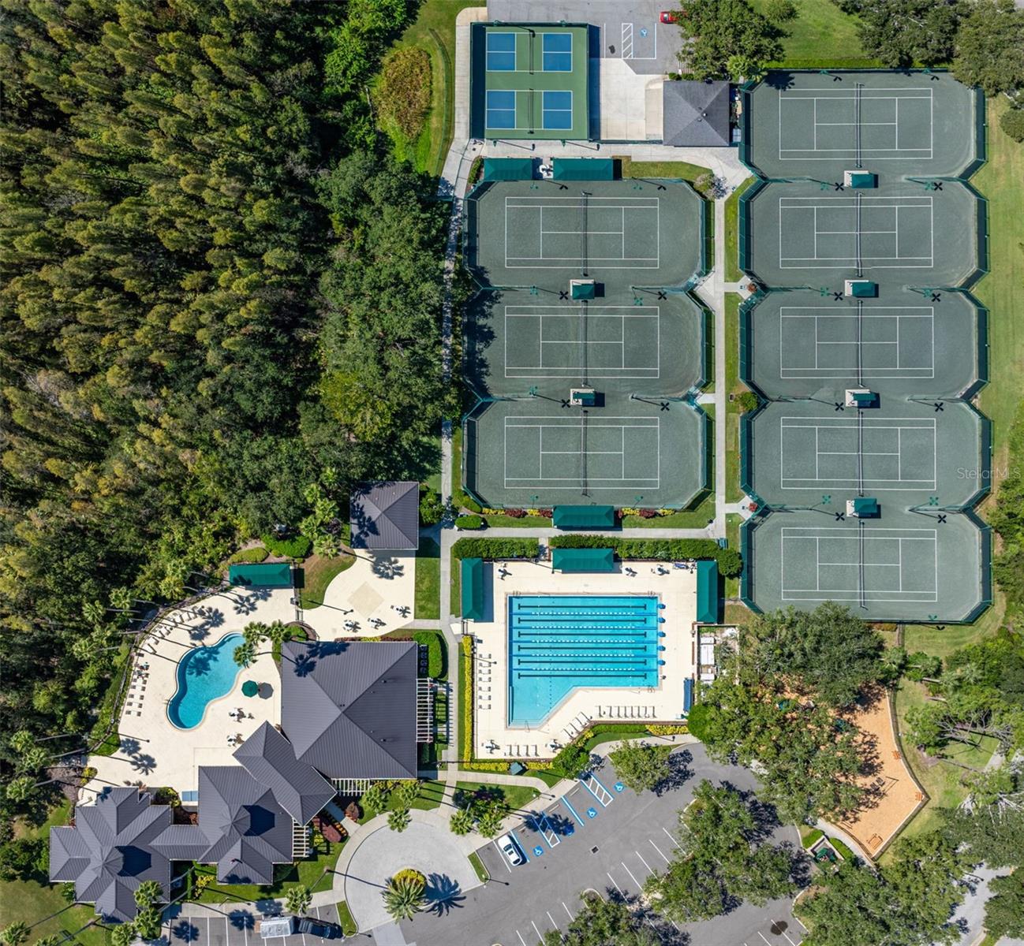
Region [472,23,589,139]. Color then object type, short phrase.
green sports court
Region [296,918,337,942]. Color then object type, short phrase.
black truck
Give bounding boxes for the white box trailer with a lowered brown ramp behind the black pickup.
[256,919,298,944]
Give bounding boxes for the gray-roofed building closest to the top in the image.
[664,80,729,151]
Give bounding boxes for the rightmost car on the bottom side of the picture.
[501,836,522,869]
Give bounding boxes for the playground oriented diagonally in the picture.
[806,817,873,876]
